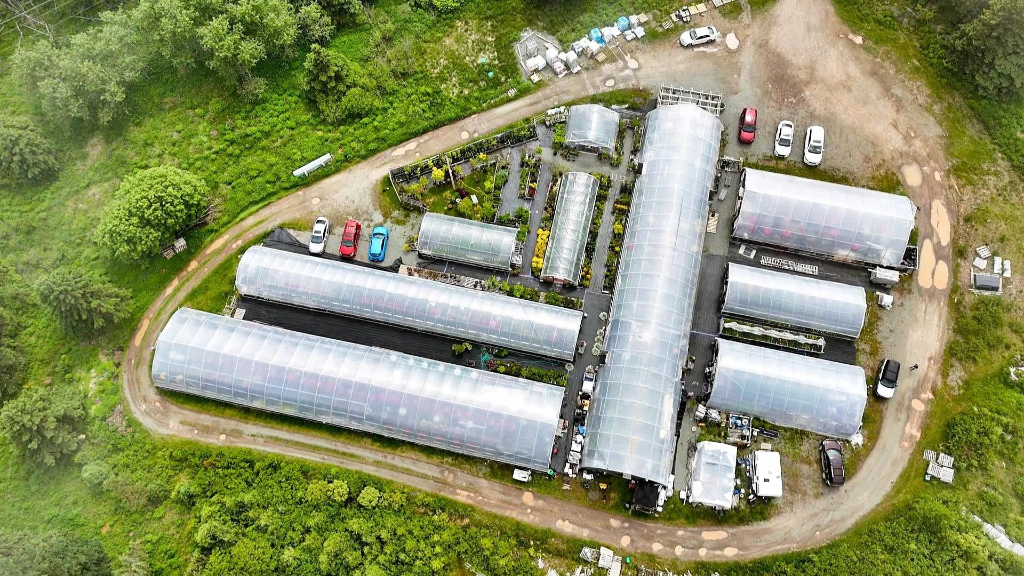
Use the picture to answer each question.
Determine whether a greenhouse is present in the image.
Yes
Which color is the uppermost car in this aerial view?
white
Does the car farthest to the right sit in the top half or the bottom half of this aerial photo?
bottom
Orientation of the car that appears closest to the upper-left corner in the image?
from top to bottom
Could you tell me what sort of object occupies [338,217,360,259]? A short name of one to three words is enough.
car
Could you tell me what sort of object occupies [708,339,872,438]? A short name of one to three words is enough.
greenhouse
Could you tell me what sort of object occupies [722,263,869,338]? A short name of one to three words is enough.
greenhouse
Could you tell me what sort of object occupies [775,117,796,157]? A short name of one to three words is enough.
car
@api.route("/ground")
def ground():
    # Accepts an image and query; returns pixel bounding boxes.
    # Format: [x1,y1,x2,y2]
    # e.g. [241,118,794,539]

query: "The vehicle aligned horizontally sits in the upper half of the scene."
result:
[679,22,722,45]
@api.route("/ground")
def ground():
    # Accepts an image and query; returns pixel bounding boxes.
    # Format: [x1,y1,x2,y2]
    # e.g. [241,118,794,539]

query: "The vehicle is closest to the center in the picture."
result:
[368,223,389,262]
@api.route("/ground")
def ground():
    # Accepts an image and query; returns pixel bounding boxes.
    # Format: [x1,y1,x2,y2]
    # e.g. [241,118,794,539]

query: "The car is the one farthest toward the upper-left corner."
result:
[306,213,329,255]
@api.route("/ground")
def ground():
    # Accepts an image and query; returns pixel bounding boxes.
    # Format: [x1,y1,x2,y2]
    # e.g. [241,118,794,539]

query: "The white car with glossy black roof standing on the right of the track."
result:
[877,355,903,401]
